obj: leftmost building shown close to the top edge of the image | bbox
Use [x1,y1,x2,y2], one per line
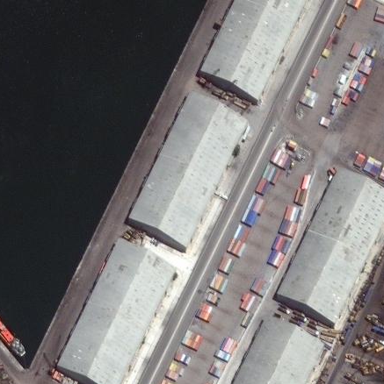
[201,0,306,104]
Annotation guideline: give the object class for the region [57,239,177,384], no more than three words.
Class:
warehouse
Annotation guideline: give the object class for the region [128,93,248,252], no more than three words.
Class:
warehouse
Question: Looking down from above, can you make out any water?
Yes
